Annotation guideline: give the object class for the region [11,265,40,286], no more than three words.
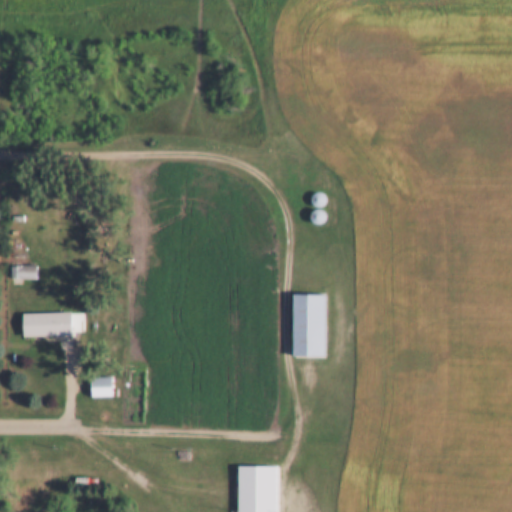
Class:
building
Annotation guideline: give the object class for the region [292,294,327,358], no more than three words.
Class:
barn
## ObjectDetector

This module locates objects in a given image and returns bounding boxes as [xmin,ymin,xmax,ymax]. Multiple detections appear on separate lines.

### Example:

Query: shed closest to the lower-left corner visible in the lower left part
[90,376,116,398]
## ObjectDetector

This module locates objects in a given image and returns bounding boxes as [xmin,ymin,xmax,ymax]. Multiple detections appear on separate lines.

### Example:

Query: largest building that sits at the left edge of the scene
[22,312,87,338]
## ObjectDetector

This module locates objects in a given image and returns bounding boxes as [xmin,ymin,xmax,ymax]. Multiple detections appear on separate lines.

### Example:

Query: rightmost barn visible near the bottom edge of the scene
[238,466,280,512]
